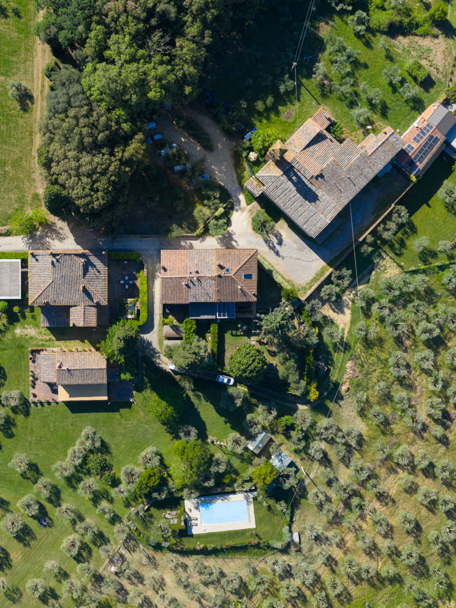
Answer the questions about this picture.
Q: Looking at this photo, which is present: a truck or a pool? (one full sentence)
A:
There is a pool in the scene.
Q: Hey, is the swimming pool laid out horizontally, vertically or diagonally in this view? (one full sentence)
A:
Seen from above, the swimming pool lies horizontally.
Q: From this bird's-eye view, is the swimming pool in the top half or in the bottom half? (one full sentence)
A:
It is in the bottom half that the swimming pool appears.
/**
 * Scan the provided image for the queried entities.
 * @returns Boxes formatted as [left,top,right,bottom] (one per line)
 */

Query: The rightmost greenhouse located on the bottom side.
[269,450,299,475]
